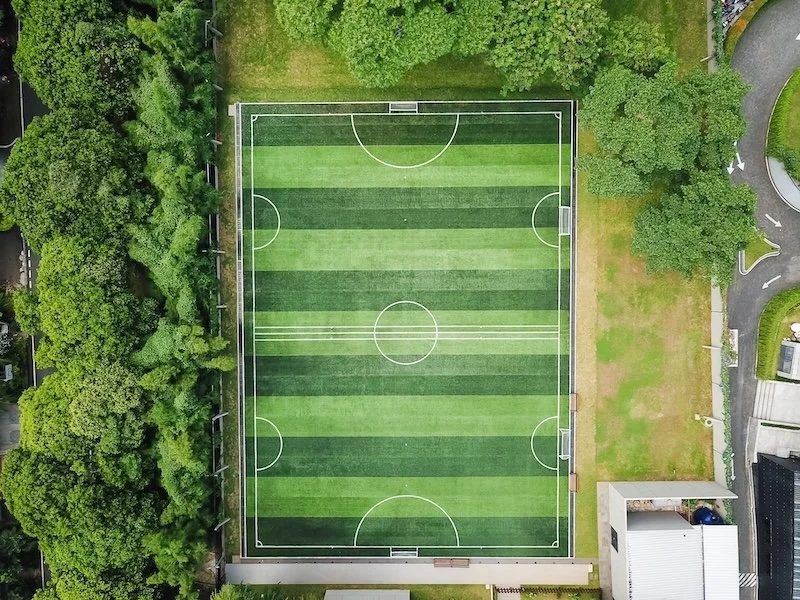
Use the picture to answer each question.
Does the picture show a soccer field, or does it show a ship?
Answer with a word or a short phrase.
soccer field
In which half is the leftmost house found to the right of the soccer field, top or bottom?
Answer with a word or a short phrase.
bottom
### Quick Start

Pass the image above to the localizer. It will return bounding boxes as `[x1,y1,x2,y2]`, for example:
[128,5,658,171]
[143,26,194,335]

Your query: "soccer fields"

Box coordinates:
[235,100,578,559]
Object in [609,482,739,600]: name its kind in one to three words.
house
